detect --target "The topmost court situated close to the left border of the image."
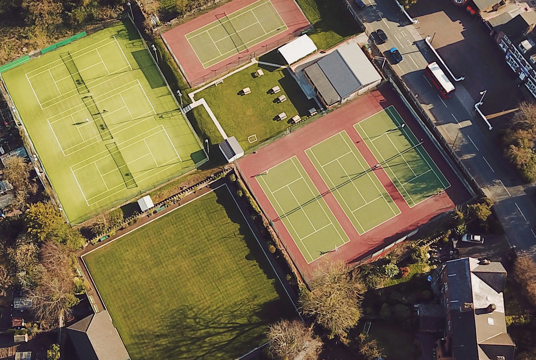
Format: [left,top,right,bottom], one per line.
[26,36,132,109]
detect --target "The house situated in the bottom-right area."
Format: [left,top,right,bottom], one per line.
[417,254,512,360]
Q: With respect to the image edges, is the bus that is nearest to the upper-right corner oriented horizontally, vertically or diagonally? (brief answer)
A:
diagonally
